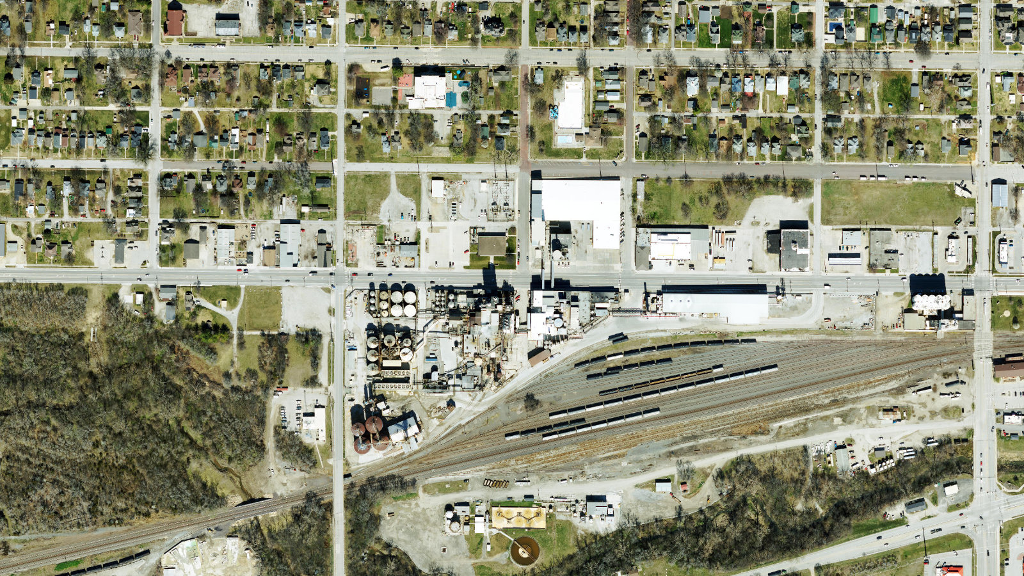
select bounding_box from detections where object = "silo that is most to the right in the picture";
[913,295,952,315]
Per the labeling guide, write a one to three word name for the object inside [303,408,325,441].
building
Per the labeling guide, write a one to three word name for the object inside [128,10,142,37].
house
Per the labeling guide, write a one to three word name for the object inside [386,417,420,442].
shed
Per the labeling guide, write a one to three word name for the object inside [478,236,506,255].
building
